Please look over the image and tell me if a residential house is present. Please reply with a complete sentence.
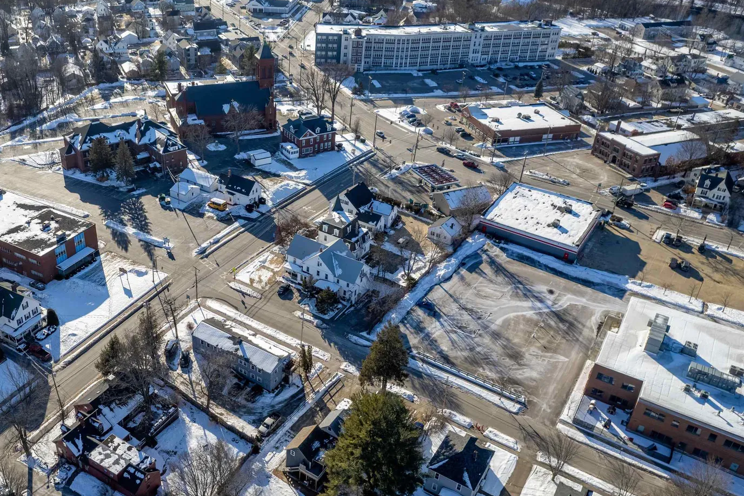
Yes, there is a residential house in the image.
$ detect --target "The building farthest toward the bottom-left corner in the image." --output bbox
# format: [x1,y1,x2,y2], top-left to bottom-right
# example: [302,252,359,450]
[52,375,163,496]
